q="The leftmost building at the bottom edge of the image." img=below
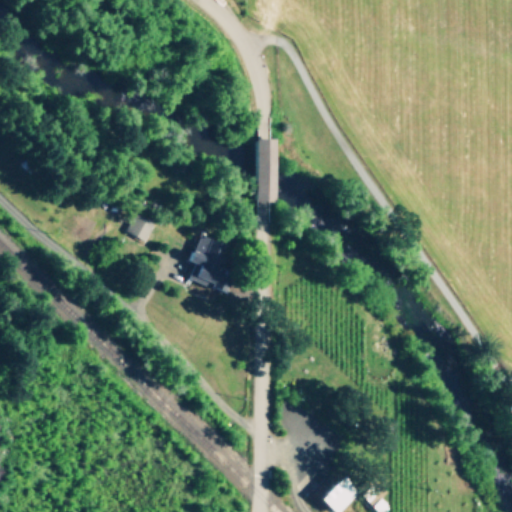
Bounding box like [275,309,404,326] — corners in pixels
[321,478,357,512]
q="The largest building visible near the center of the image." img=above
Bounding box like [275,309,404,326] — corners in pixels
[189,232,224,291]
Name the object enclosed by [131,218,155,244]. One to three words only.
house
